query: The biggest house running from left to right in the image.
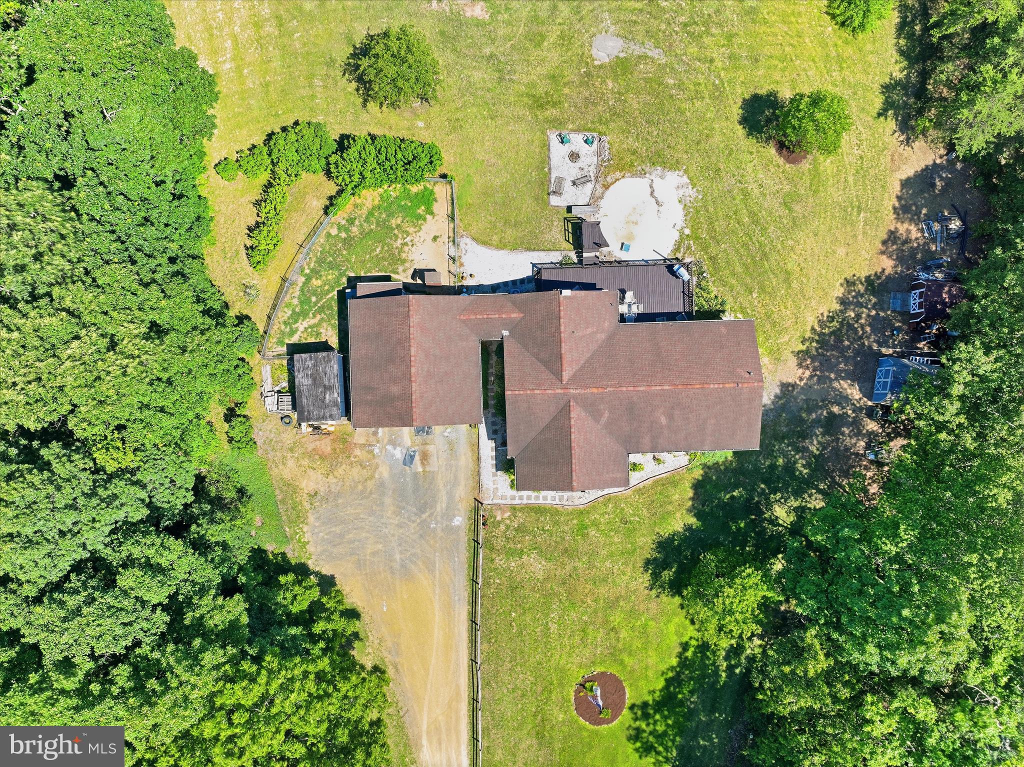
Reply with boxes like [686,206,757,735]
[346,281,765,492]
